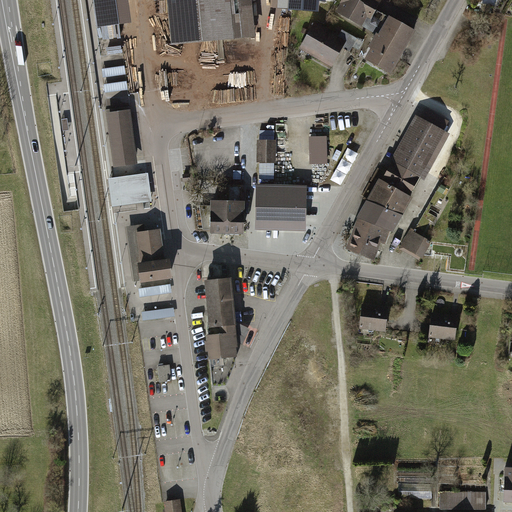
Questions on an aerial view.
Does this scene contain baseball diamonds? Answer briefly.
No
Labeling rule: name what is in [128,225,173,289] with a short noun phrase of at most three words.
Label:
house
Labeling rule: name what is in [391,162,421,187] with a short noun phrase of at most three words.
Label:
building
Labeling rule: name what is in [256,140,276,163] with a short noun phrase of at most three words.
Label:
shed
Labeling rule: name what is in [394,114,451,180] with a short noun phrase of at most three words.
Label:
barn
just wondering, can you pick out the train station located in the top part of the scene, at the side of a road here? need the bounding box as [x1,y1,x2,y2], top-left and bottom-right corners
[47,0,126,288]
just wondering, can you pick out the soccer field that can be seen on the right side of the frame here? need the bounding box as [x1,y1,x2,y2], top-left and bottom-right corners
[475,14,512,274]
